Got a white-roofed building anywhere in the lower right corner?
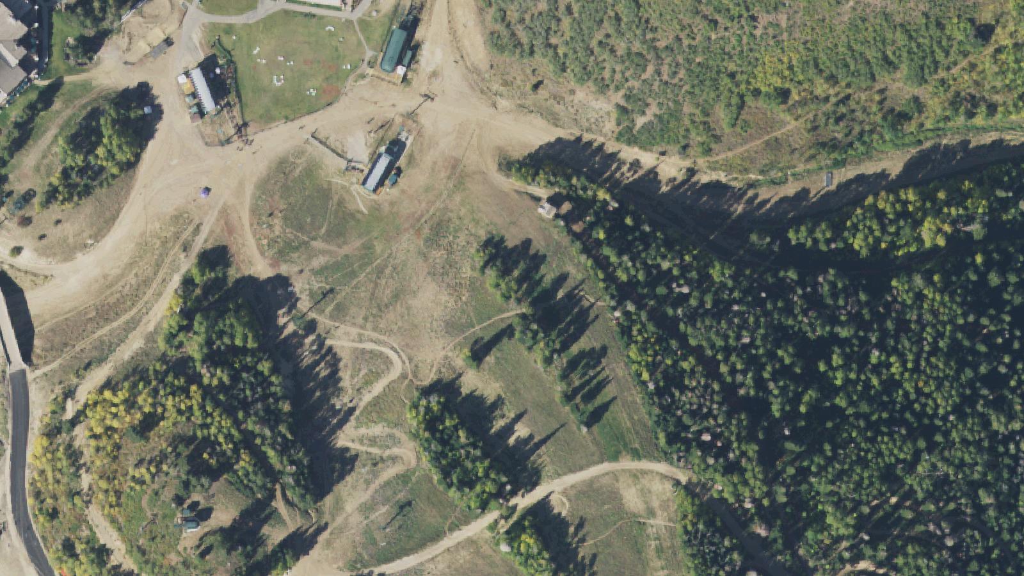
No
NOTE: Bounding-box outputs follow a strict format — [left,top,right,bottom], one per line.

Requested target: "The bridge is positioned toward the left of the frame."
[0,291,31,370]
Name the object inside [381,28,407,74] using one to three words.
building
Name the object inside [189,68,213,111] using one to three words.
building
